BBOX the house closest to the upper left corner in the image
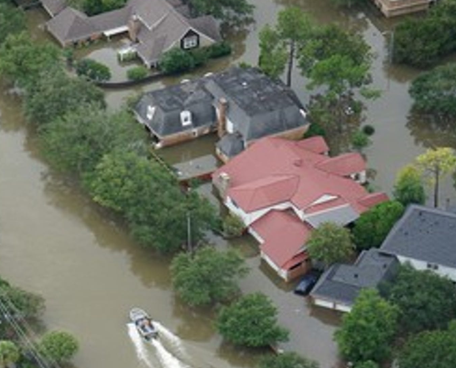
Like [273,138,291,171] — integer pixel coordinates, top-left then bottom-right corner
[42,0,224,74]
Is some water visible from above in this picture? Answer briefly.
Yes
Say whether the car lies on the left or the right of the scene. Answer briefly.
right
